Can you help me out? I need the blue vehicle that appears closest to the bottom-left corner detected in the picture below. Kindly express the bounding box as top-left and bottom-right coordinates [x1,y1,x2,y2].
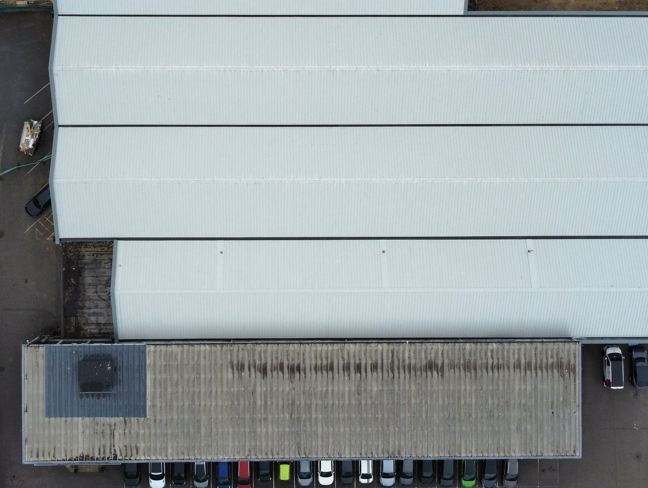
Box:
[213,464,233,488]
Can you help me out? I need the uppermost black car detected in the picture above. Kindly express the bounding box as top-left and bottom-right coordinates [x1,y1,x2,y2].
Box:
[25,184,51,216]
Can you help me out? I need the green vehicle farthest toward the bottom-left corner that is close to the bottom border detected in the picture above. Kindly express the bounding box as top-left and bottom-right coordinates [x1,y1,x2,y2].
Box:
[276,464,293,483]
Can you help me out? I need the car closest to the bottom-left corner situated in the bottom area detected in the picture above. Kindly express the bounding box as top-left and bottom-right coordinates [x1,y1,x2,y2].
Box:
[122,464,142,487]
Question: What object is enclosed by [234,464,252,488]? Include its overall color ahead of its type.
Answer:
red car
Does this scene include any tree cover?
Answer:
No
